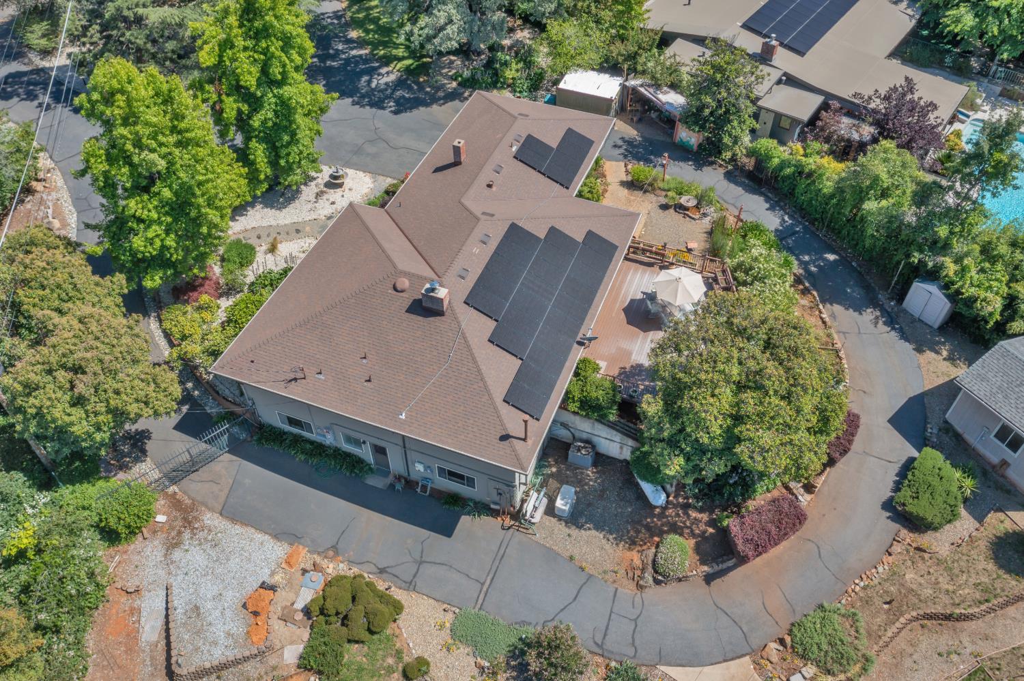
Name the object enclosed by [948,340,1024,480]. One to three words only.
house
